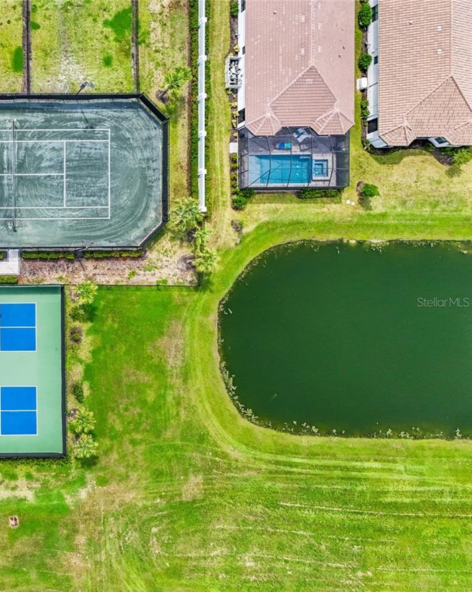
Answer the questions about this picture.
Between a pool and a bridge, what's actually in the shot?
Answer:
pool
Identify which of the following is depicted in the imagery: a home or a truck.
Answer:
home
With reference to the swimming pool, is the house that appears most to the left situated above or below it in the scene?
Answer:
above it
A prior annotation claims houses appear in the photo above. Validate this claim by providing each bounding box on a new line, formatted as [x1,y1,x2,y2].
[238,0,355,136]
[367,0,472,147]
